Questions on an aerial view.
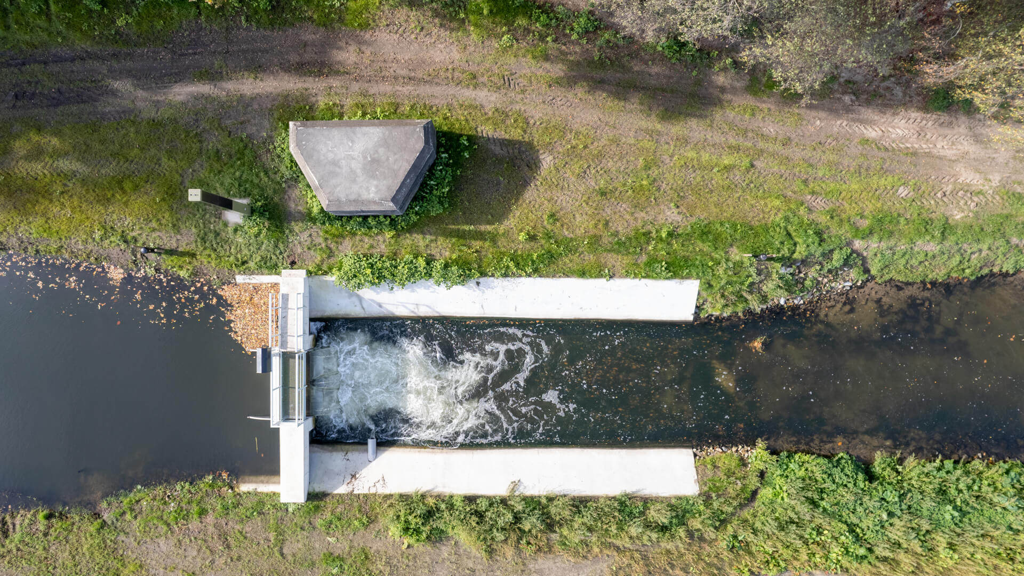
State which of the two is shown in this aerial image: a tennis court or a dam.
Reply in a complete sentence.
There is a dam in the scene.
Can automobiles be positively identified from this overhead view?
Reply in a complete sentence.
No, there isn't any automobile down there.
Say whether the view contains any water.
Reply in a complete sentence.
Yes, there's water in this view.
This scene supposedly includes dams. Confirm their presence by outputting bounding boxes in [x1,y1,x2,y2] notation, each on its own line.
[281,270,338,502]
